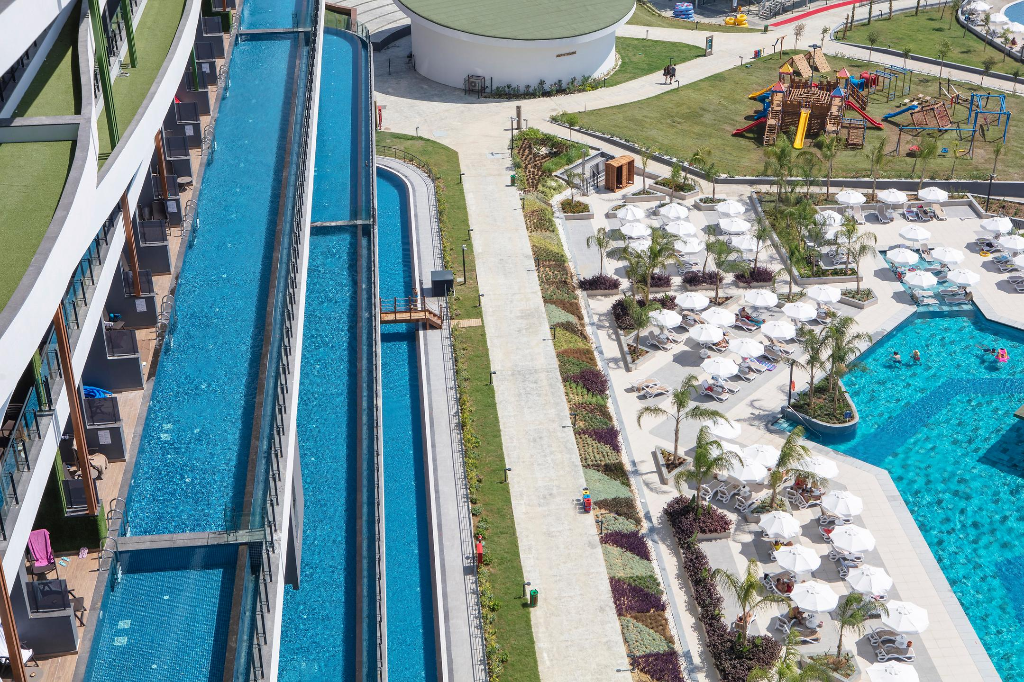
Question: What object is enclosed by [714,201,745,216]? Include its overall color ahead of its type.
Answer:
white umbrella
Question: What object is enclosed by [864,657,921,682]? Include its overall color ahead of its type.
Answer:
white umbrella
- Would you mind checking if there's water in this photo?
Yes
